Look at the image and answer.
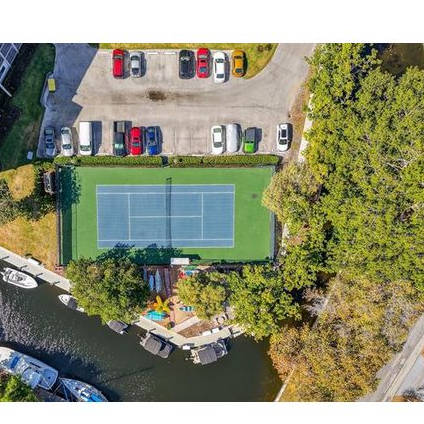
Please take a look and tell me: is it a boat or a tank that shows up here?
boat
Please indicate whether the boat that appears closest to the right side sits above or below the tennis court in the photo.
below it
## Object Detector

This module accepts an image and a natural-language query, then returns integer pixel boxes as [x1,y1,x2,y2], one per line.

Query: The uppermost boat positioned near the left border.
[0,263,38,289]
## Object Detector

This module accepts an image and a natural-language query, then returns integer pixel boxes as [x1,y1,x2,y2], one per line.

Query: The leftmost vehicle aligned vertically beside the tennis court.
[43,127,56,156]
